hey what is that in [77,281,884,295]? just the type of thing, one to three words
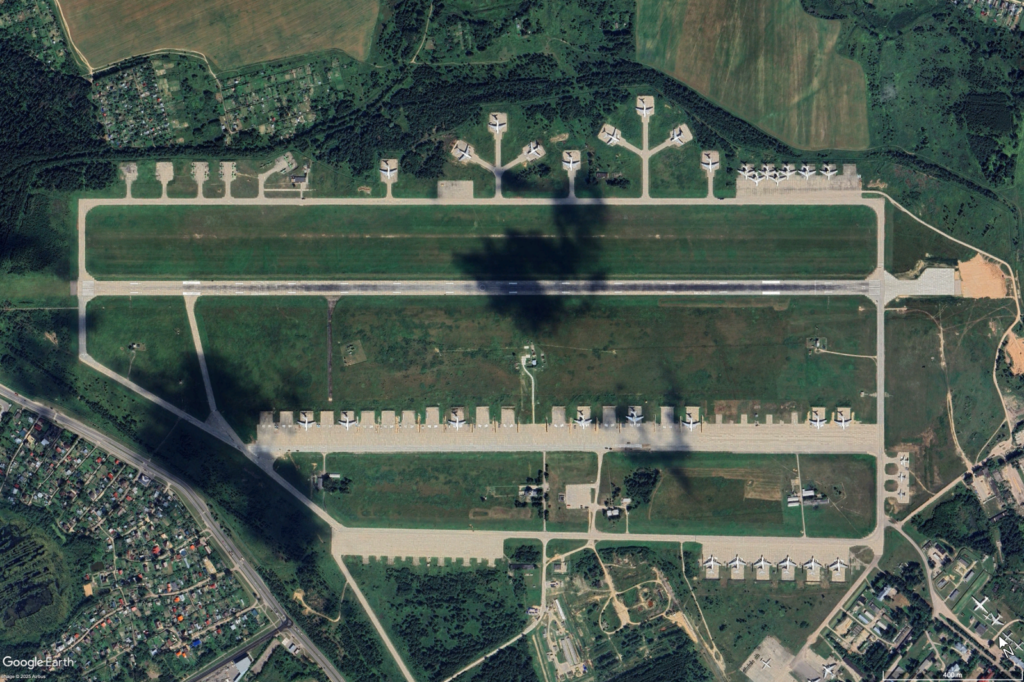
runway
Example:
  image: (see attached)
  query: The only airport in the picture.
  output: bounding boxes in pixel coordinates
[70,96,961,682]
